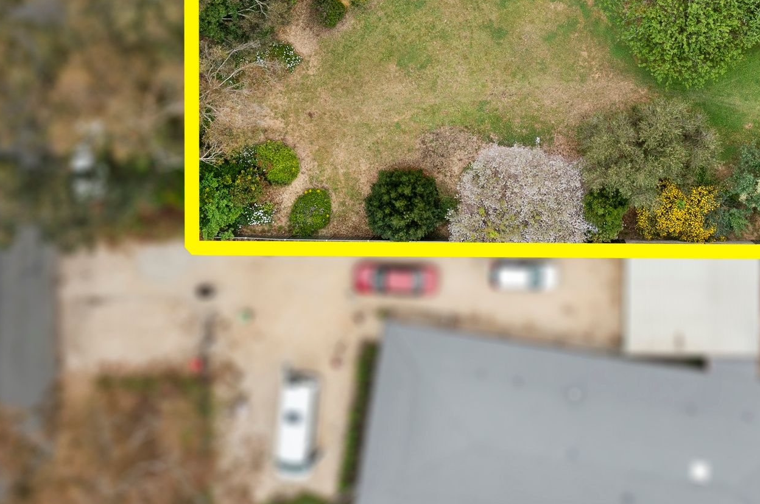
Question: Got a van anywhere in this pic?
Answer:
Yes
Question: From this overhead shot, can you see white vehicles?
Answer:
Yes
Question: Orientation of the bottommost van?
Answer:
vertically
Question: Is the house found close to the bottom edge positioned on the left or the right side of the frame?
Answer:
right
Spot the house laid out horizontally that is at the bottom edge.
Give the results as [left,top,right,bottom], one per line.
[356,320,760,504]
